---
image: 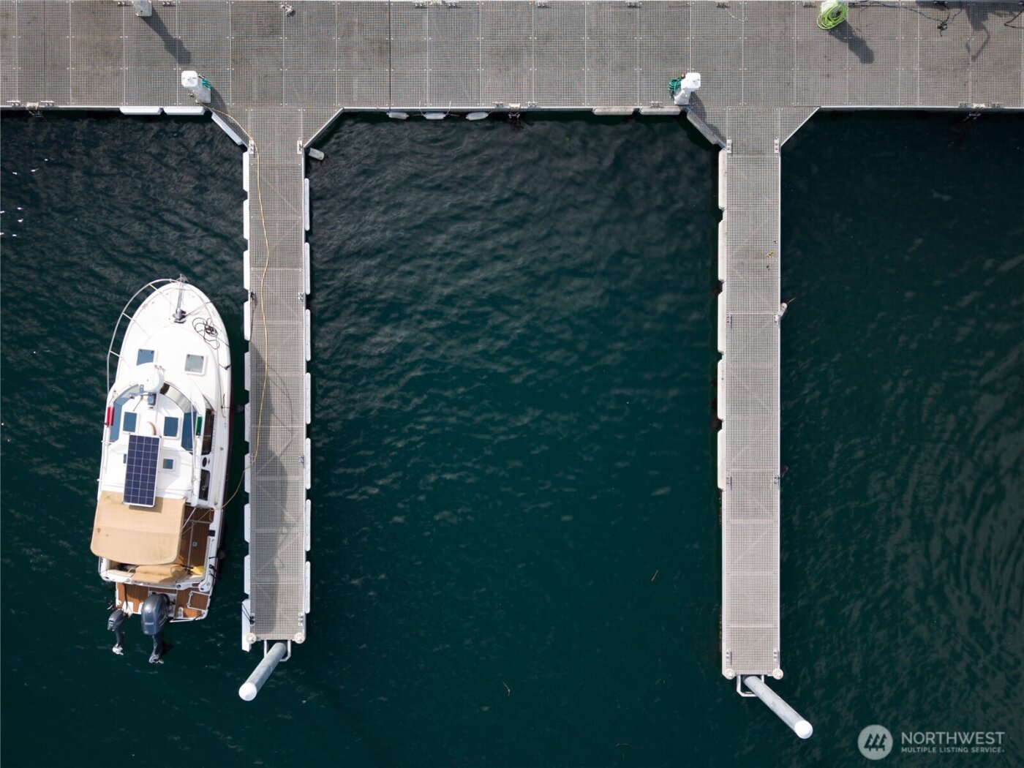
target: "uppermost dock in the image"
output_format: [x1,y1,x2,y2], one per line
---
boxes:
[0,0,1024,125]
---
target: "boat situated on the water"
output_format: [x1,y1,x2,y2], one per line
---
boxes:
[92,274,238,662]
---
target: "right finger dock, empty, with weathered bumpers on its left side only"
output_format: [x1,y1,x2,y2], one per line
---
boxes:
[684,107,821,698]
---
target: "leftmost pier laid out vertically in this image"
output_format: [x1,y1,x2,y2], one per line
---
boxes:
[208,107,347,663]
